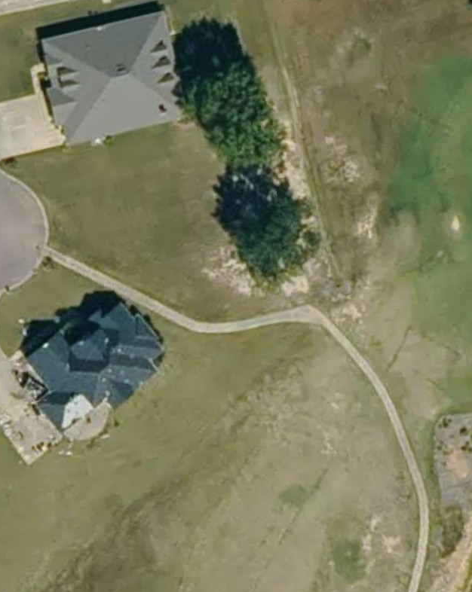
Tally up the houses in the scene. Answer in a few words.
2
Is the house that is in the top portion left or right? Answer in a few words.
left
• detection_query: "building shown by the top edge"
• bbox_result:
[40,8,184,142]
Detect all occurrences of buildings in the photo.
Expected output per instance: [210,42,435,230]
[27,302,164,430]
[40,8,184,142]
